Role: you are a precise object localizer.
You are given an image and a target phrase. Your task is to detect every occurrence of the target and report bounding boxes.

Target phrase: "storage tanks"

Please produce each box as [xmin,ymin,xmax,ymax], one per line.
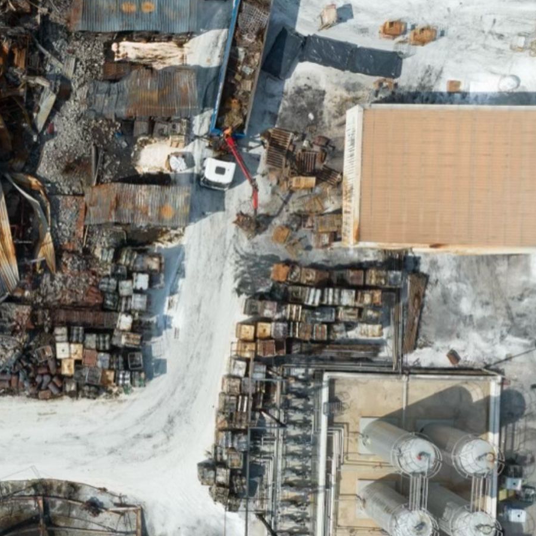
[412,481,505,536]
[357,417,444,481]
[412,417,506,481]
[356,481,442,536]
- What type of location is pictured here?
industrial area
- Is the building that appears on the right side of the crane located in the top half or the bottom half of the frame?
top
